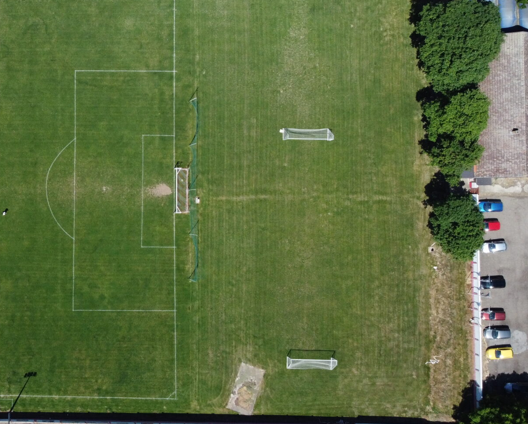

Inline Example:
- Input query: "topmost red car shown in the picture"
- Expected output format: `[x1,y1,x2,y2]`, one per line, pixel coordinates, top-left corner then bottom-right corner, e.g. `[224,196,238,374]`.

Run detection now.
[482,219,503,233]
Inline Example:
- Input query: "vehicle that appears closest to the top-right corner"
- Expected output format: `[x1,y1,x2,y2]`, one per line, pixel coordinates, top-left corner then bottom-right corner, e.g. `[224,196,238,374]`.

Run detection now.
[481,199,508,214]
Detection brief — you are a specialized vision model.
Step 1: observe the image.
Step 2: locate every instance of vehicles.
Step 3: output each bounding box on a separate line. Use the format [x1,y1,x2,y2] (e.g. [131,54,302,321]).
[483,328,514,341]
[482,219,503,233]
[483,278,508,291]
[485,347,516,361]
[481,199,508,214]
[483,310,508,324]
[482,241,509,254]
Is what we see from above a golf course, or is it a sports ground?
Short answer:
sports ground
